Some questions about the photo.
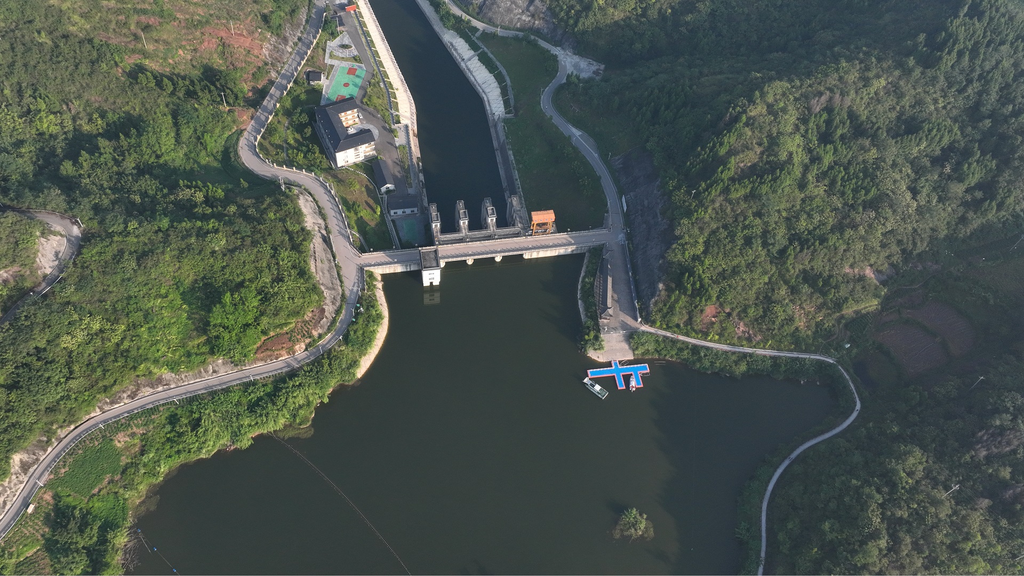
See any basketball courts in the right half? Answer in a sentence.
No, I can find no basketball court in the right half.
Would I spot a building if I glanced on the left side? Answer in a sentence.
Yes, you'll find a building on the left side.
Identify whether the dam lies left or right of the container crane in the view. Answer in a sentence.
Looking at the photo, the dam lies to the left of the container crane.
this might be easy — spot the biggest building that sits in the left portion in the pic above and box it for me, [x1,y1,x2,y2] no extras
[315,97,378,168]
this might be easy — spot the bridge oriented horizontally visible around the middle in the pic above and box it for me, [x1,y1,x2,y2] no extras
[360,230,609,275]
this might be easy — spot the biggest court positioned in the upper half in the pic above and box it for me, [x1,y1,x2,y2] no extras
[329,66,366,102]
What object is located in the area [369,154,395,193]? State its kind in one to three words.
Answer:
shed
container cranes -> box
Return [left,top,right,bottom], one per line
[530,210,555,236]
